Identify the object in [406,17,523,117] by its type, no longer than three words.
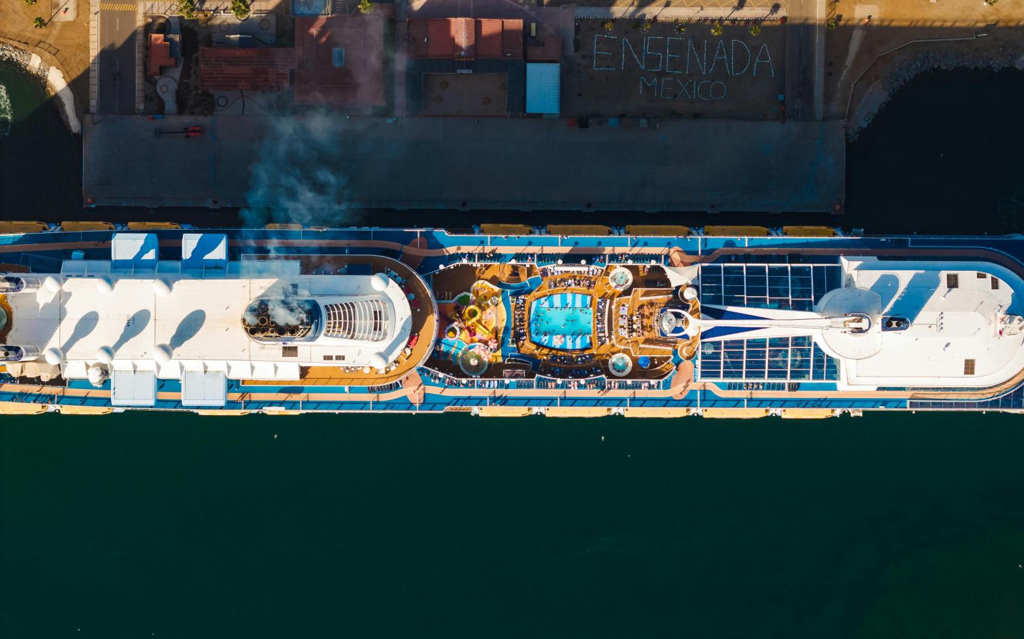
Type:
building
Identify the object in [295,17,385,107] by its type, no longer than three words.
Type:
building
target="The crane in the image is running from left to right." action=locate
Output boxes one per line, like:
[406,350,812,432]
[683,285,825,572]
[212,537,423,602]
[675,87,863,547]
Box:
[657,308,871,338]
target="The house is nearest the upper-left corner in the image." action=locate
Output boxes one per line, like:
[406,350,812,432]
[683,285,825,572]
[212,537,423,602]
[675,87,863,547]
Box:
[148,34,181,78]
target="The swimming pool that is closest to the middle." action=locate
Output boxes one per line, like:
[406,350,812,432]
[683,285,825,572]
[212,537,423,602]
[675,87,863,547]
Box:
[528,290,596,353]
